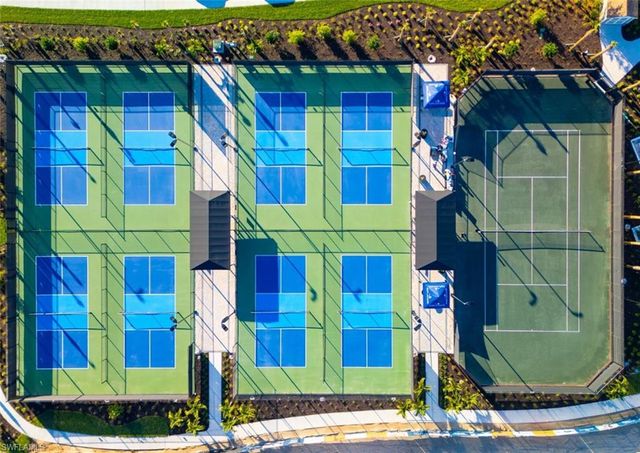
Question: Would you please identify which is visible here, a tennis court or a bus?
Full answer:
Looking from above, you can make out a tennis court.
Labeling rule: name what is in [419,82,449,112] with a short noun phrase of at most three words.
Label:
tent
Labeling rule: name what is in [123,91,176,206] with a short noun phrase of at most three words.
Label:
sports court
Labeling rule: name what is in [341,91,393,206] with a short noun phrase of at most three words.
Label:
sports court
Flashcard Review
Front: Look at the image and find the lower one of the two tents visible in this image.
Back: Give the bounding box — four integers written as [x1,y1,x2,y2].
[419,280,449,309]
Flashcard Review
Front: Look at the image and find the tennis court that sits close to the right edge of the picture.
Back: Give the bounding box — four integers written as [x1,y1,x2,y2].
[459,79,612,386]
